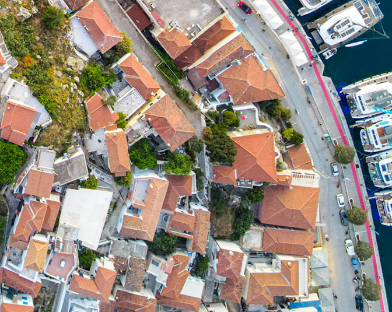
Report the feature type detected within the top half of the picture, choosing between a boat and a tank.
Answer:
boat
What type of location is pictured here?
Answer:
residential area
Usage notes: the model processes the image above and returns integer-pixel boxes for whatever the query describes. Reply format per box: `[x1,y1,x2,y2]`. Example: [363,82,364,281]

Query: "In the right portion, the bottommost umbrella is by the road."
[315,286,335,312]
